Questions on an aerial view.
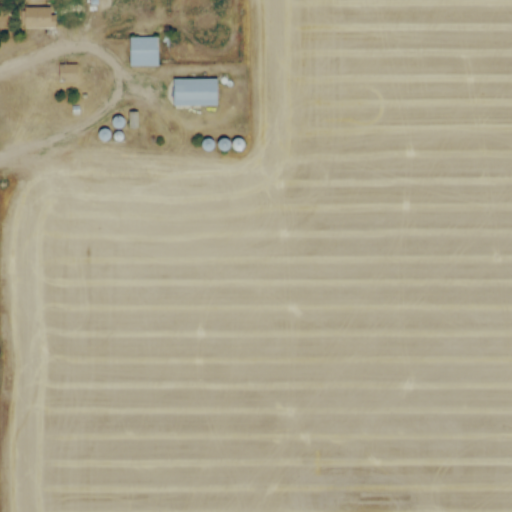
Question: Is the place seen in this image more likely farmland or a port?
farmland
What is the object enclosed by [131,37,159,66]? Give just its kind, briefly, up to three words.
barn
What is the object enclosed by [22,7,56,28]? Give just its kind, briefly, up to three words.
house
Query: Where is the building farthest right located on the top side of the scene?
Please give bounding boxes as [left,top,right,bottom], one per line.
[174,78,218,106]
